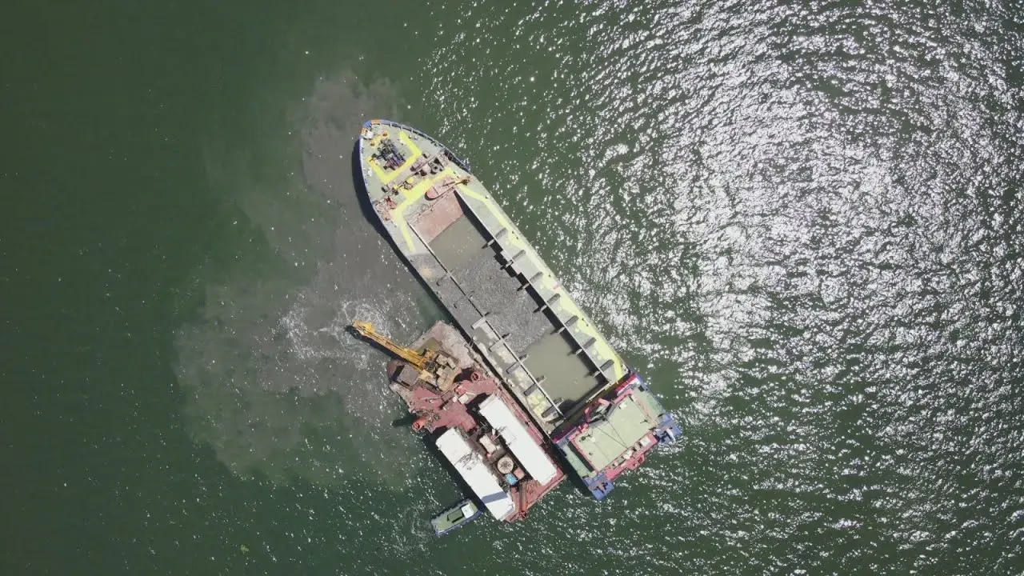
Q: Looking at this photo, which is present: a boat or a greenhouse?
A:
boat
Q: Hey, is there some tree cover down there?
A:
No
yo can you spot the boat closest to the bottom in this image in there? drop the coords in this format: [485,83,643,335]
[432,499,482,537]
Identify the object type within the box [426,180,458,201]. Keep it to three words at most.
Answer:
boat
